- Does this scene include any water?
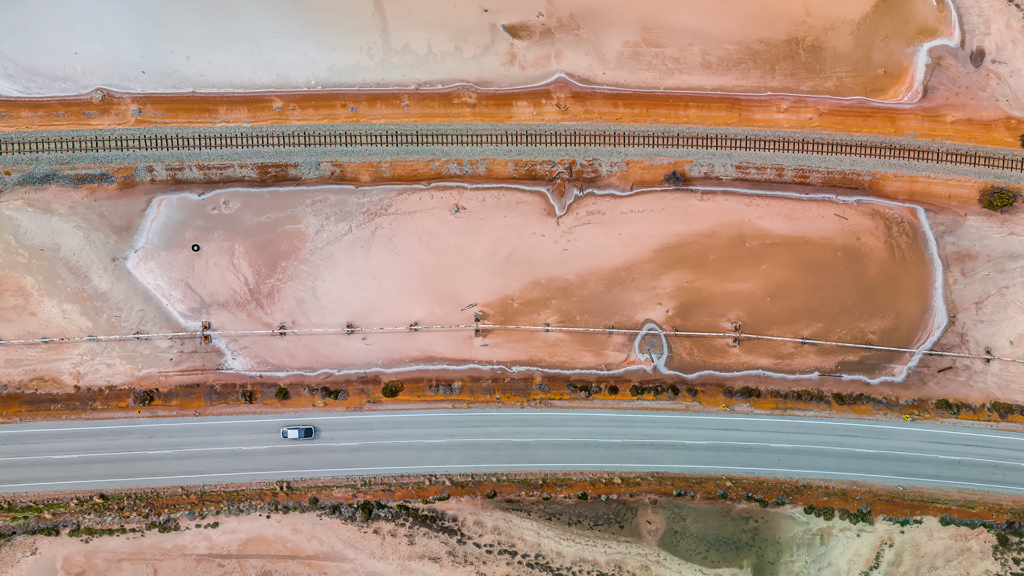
Yes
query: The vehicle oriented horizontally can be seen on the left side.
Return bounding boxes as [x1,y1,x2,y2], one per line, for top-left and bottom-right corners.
[278,426,314,443]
